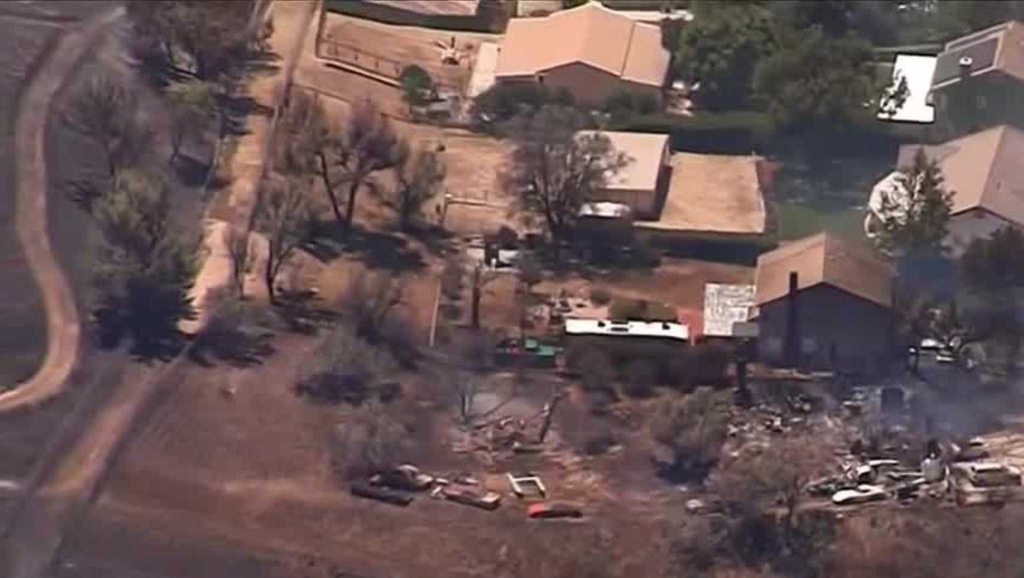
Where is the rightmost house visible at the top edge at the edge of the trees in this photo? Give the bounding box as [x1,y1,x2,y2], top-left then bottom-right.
[927,18,1024,135]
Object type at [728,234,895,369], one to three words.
house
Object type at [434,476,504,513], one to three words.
vehicle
